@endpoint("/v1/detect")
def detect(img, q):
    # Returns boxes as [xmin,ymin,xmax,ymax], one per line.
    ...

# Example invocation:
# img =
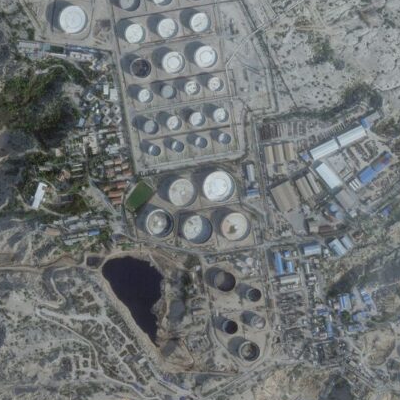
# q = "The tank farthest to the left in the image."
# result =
[57,4,88,35]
